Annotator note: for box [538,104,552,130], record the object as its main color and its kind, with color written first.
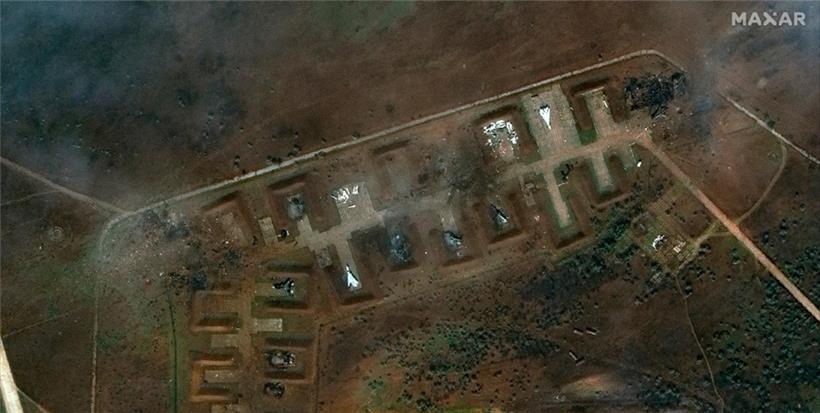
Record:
white airplane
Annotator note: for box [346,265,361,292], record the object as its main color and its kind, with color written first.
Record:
white airplane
